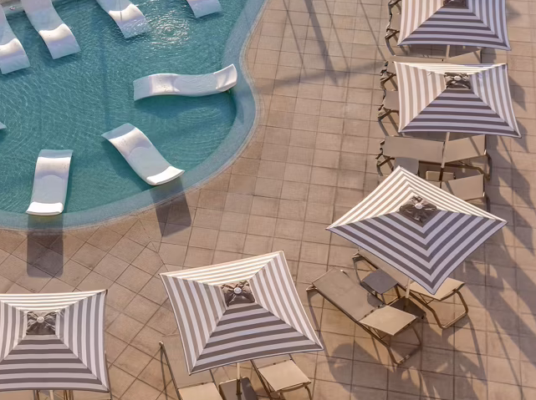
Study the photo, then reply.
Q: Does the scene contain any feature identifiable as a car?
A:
No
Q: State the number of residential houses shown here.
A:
0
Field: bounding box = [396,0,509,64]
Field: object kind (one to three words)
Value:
umbrella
